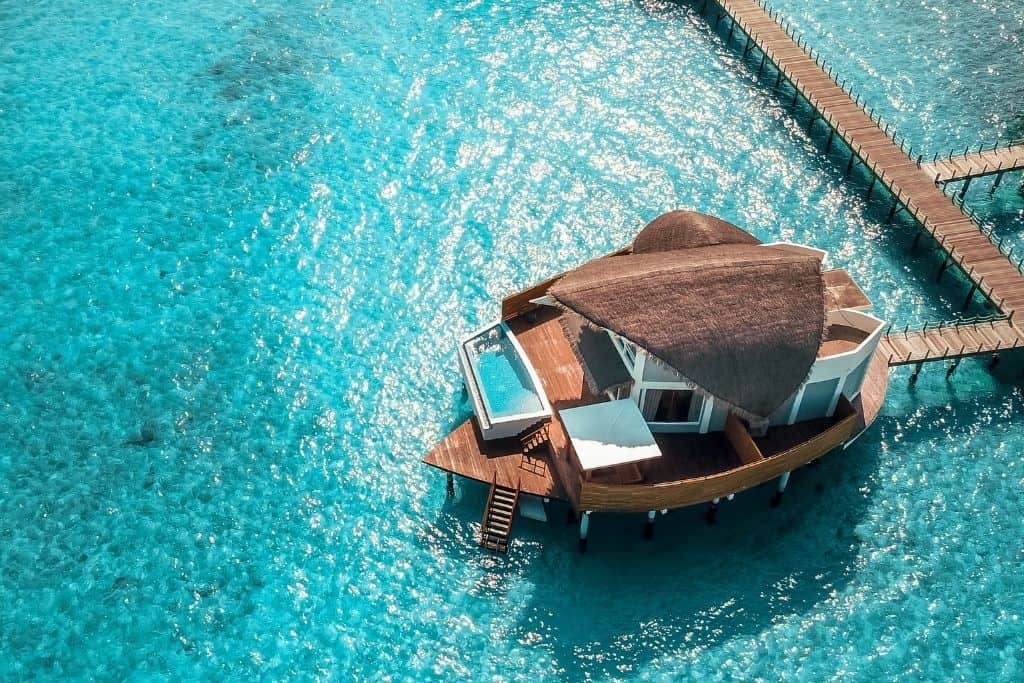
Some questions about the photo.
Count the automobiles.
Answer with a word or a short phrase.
0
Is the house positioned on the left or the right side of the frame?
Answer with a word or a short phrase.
right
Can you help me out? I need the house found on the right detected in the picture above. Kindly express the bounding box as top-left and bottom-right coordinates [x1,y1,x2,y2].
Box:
[503,209,890,547]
